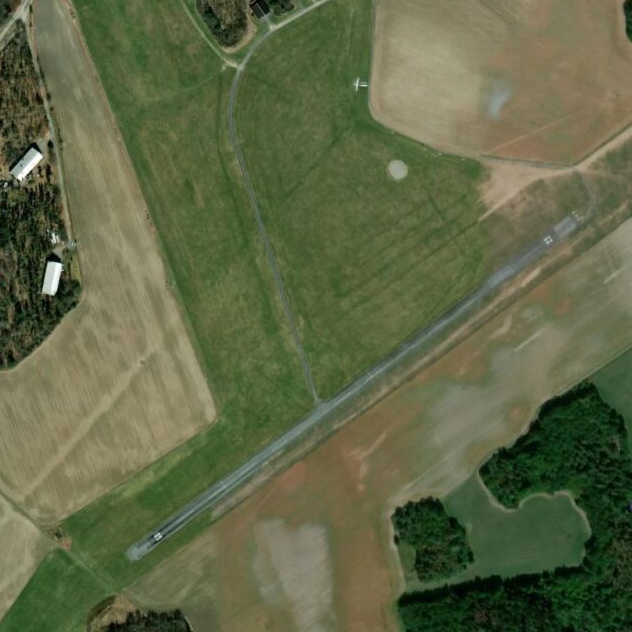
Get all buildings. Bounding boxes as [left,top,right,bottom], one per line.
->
[42,261,62,296]
[250,0,271,19]
[10,147,43,182]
